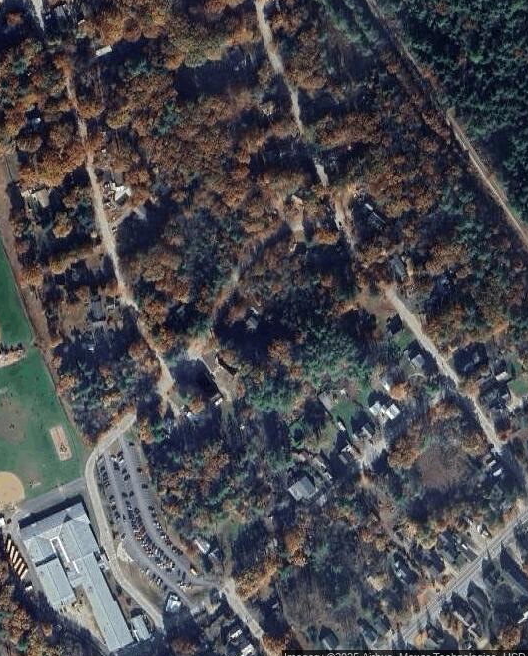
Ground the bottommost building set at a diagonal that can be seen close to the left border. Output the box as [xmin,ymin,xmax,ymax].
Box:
[20,502,134,653]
